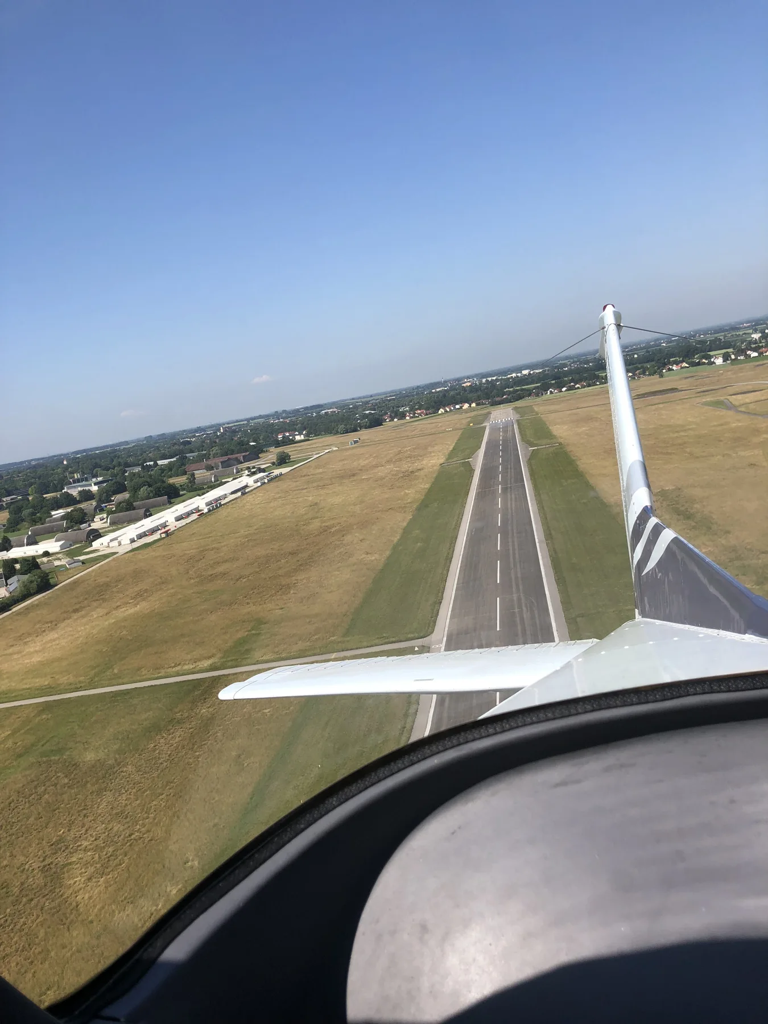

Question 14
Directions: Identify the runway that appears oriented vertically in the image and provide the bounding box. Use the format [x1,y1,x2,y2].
[407,407,570,742]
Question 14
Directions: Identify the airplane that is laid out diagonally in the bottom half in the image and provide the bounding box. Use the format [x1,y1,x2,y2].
[0,310,768,1024]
